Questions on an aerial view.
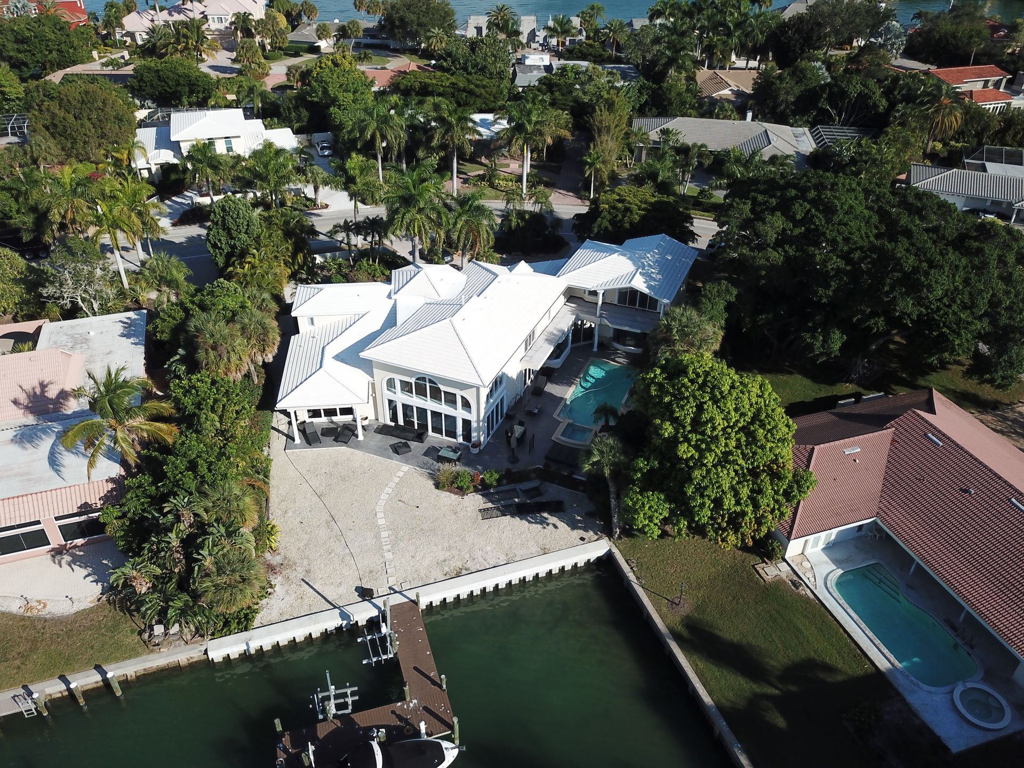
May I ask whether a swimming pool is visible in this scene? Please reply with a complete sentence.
Yes, the picture does show a swimming pool.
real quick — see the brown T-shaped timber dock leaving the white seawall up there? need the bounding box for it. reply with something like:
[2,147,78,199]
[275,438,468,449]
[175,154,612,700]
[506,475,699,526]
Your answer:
[276,601,464,768]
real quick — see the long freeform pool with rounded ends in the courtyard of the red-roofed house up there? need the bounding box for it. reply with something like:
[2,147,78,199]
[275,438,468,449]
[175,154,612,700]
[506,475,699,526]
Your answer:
[828,558,985,694]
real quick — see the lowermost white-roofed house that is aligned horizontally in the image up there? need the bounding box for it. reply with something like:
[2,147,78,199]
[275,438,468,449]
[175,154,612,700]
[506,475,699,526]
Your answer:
[275,233,699,449]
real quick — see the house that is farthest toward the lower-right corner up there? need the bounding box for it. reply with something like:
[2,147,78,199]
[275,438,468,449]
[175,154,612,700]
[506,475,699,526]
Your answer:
[741,387,1024,708]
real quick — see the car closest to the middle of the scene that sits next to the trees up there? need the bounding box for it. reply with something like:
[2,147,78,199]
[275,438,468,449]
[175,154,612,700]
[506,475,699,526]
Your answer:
[424,241,459,263]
